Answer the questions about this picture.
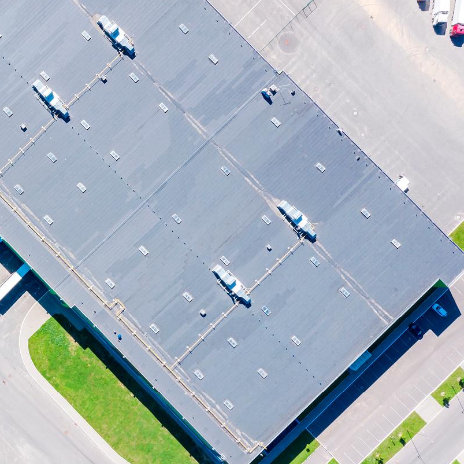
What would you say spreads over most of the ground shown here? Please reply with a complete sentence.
Most of the picture is covered by buildings.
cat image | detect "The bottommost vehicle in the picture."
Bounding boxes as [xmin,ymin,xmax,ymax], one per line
[408,324,423,338]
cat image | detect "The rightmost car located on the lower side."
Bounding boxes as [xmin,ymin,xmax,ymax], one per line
[432,303,447,317]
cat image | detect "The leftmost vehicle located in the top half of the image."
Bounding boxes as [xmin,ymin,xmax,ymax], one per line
[394,173,411,190]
